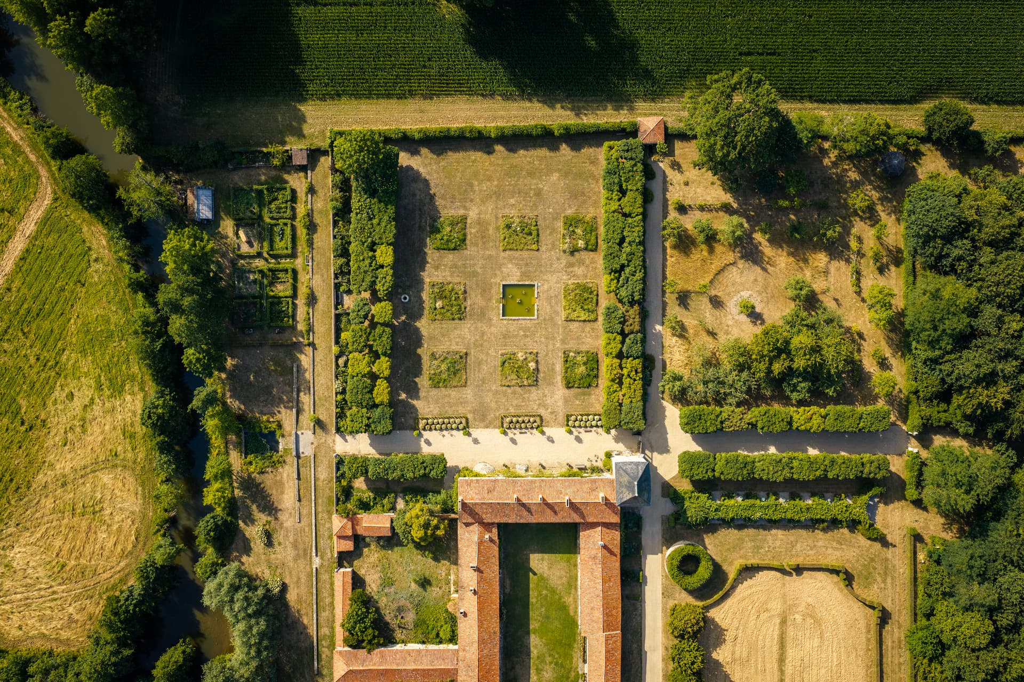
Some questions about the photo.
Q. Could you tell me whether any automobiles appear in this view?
No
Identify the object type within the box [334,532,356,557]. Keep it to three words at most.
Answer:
shed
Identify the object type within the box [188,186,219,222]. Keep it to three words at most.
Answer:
shed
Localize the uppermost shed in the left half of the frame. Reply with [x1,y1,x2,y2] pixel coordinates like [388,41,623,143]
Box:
[292,148,310,167]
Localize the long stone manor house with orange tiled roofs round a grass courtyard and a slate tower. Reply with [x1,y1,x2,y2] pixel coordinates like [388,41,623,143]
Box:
[457,456,652,682]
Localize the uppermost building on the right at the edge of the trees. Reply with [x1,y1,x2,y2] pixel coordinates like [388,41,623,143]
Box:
[637,116,665,147]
